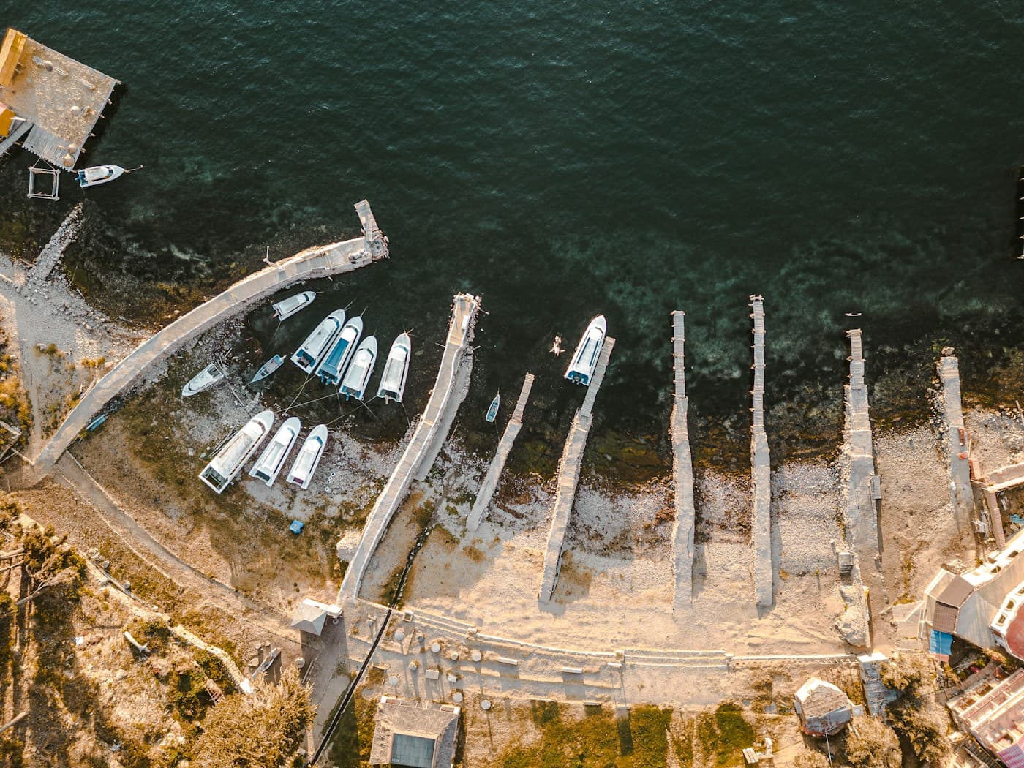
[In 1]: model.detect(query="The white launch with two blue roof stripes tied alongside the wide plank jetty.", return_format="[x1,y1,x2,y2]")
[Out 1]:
[565,315,606,388]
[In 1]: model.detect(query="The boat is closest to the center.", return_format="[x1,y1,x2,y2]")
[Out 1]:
[486,394,500,423]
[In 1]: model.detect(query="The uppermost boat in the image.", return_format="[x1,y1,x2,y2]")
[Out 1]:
[76,166,128,187]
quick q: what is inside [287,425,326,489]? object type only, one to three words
boat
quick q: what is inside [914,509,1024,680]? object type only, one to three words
building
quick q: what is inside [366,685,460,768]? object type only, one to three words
building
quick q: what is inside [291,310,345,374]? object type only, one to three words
boat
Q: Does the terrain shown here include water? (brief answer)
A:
Yes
